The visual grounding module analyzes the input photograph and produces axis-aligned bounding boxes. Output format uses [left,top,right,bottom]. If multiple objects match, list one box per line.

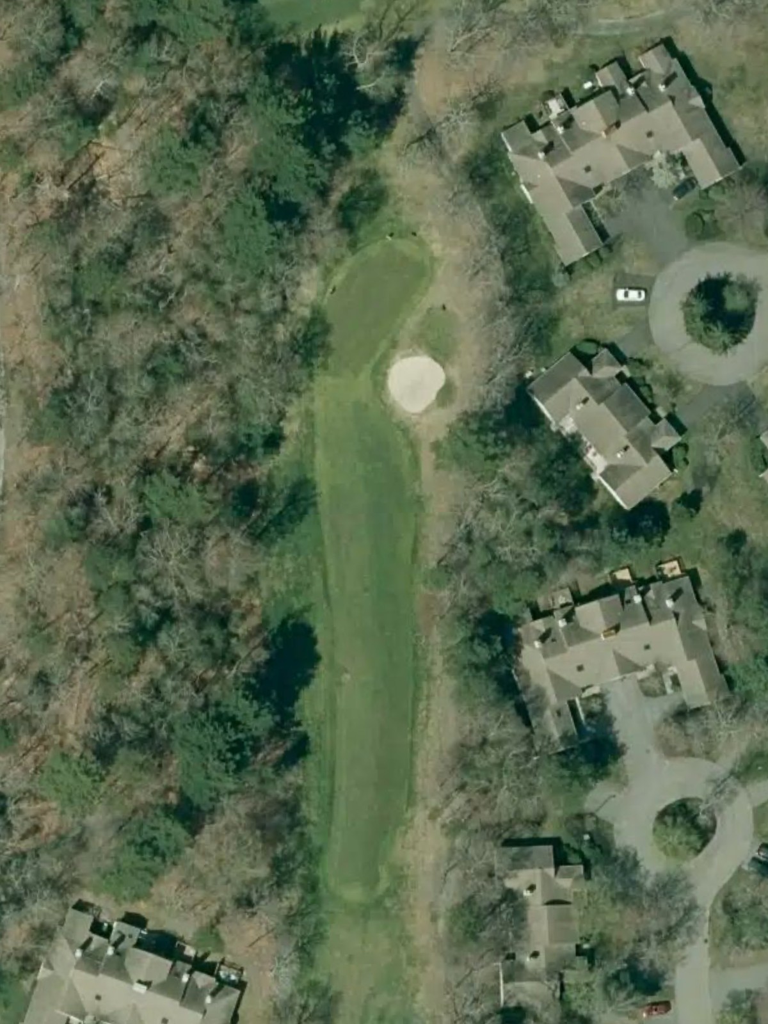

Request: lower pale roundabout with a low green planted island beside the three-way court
[585,758,753,912]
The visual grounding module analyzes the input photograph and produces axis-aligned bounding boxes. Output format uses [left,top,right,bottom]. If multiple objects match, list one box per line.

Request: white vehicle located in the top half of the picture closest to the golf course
[617,287,645,301]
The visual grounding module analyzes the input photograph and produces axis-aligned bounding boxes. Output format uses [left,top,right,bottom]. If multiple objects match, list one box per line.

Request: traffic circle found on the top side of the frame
[649,243,768,386]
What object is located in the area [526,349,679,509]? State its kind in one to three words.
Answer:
house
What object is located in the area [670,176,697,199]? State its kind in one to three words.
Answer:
car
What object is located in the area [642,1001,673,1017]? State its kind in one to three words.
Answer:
car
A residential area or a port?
residential area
